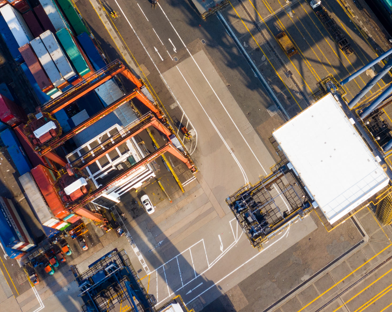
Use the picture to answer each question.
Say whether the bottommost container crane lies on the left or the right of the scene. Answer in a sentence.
The bottommost container crane appears in the left half of the scene.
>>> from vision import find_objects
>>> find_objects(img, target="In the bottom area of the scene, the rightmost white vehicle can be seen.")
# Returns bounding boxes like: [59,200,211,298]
[140,195,156,215]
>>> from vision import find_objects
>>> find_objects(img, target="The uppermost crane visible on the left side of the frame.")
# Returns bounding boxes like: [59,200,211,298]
[19,59,168,171]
